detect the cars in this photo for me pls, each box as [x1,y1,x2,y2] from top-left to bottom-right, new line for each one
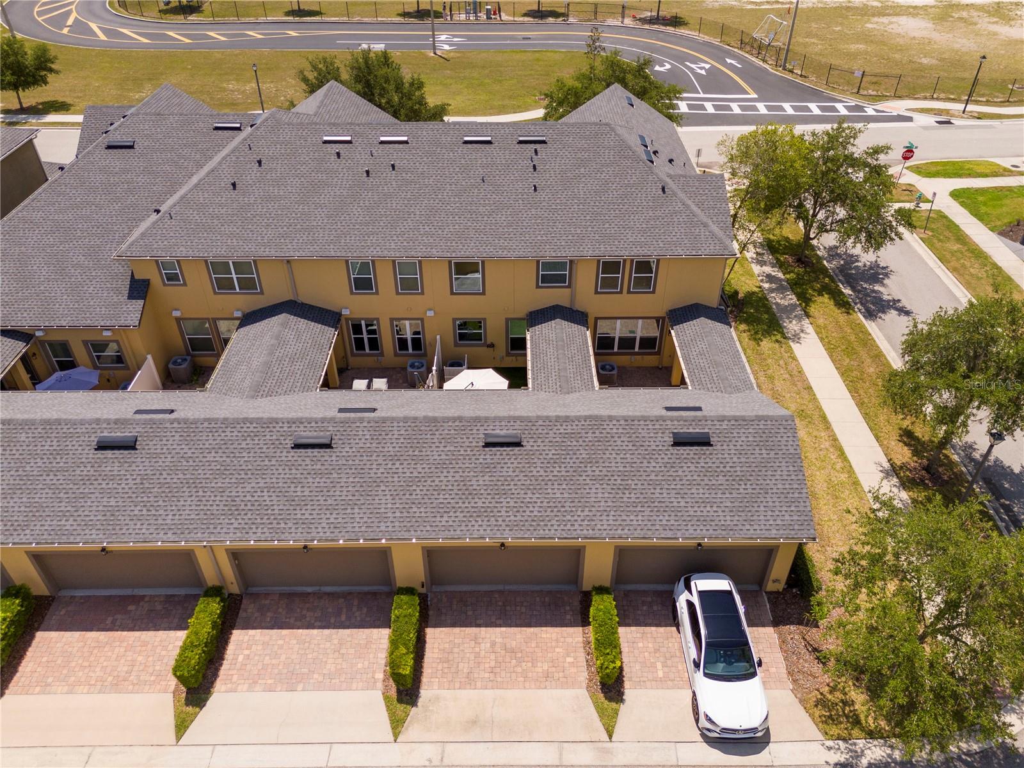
[673,579,770,741]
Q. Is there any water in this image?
No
